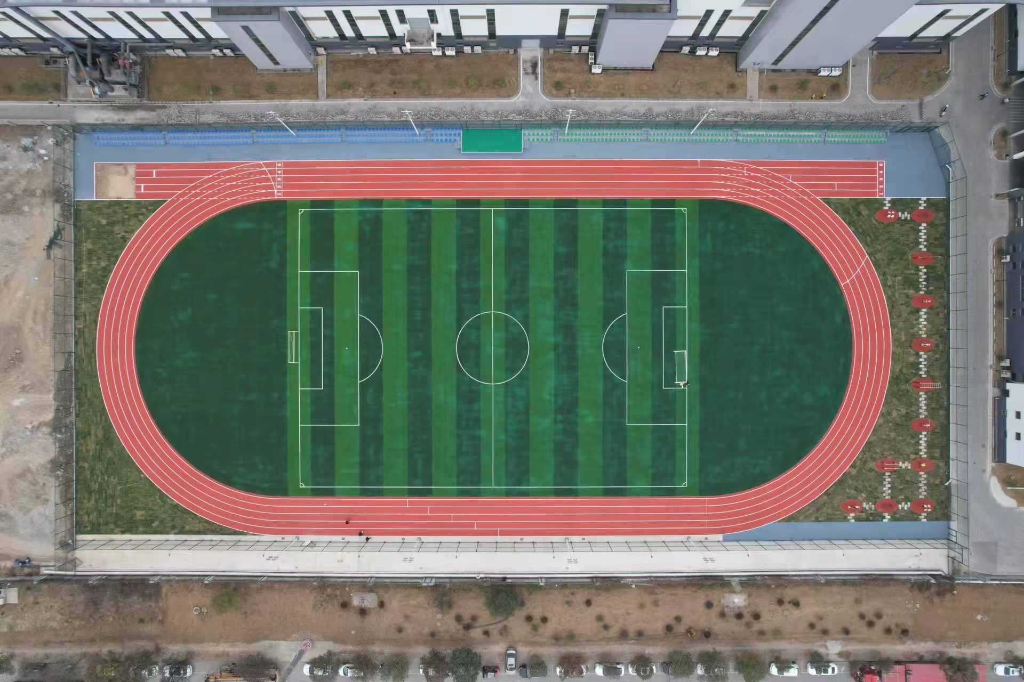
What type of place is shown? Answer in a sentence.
This looks like a sports ground.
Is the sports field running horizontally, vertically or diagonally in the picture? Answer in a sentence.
In this picture, the sports field is oriented horizontally.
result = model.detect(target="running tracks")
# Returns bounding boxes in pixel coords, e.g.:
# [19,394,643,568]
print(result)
[94,160,892,536]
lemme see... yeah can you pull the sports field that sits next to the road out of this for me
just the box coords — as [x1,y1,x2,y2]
[136,200,852,496]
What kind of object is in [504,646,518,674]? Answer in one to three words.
car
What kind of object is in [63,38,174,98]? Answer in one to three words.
building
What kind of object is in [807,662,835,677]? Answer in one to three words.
car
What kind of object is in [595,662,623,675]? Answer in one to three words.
vehicle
